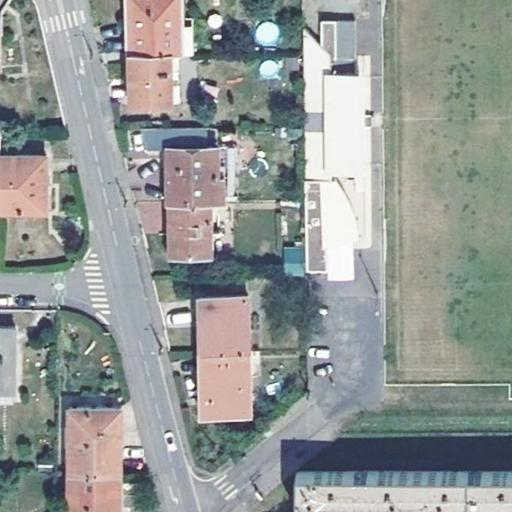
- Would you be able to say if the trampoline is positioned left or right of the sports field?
on the left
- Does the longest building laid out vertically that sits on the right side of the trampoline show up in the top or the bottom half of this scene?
top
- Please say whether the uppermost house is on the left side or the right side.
left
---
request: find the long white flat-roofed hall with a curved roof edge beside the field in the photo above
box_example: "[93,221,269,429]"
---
[304,20,382,280]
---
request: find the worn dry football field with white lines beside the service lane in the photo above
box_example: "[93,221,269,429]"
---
[384,0,512,384]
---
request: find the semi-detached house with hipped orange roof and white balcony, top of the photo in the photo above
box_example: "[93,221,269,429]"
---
[124,0,194,116]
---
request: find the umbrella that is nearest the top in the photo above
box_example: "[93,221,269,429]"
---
[208,14,223,28]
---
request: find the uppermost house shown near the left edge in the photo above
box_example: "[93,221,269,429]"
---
[0,154,50,219]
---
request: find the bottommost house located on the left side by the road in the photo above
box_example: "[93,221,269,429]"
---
[64,407,124,512]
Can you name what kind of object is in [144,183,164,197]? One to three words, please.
car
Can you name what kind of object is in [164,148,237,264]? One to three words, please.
house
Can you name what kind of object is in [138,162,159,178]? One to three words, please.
car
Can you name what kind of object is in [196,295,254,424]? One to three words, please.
house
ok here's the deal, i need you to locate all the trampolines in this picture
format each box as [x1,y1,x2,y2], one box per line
[248,156,268,176]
